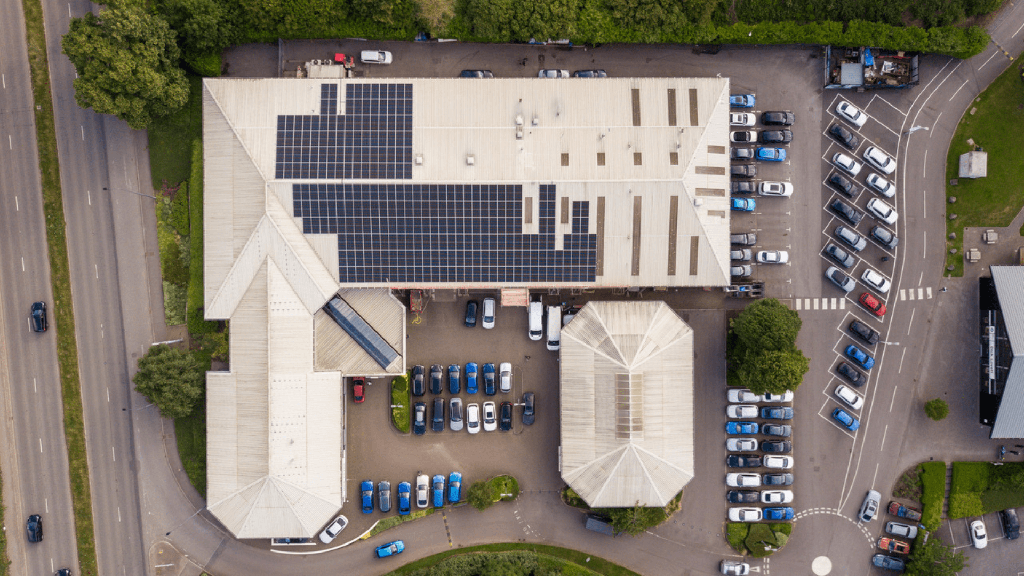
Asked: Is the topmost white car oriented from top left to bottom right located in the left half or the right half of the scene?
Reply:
right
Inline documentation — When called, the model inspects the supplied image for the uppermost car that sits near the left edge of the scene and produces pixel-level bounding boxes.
[29,301,49,332]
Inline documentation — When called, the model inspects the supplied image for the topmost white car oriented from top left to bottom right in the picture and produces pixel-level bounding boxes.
[836,100,868,127]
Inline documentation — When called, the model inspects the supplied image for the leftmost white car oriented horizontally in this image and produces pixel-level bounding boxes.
[360,49,393,65]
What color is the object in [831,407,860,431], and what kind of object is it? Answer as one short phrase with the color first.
blue car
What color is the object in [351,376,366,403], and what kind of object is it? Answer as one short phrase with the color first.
red car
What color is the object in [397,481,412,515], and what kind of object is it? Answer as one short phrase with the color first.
blue car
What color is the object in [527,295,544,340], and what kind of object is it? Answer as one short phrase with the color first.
white vehicle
